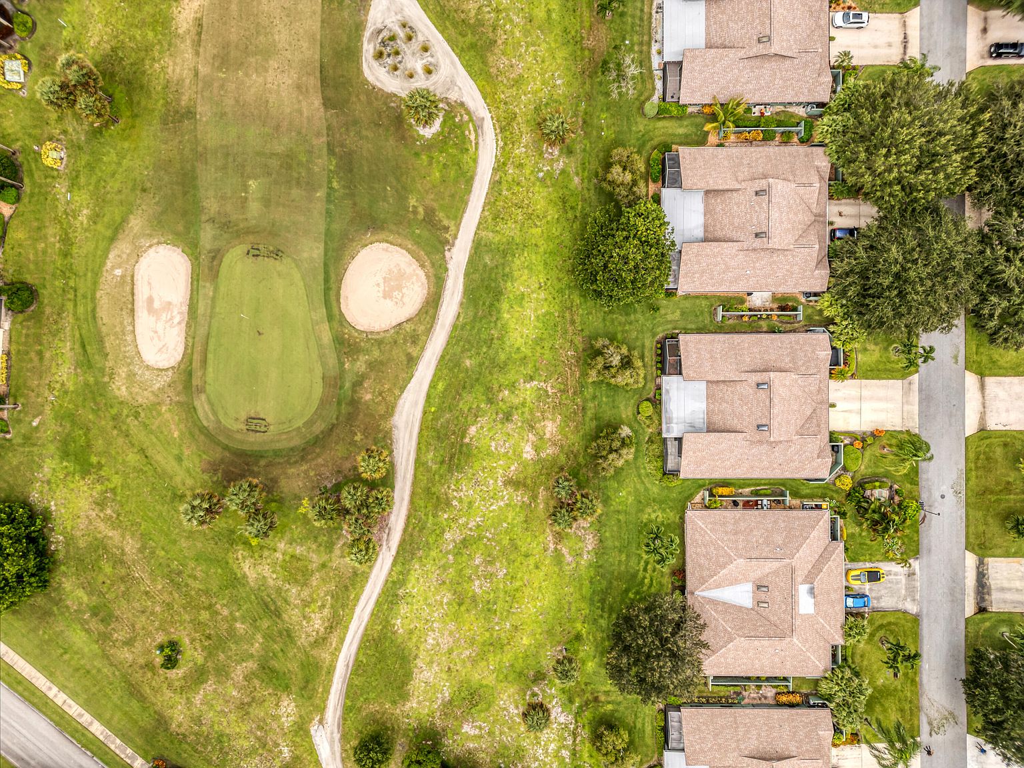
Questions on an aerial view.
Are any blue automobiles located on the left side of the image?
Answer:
No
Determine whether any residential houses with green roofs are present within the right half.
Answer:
No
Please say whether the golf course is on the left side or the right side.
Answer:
left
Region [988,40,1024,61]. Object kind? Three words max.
car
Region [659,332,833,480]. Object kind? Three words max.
house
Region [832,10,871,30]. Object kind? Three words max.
car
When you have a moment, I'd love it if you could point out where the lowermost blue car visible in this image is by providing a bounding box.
[845,592,873,610]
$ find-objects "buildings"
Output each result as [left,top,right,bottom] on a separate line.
[685,509,845,677]
[658,146,833,293]
[661,702,833,768]
[659,332,833,480]
[659,0,833,108]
